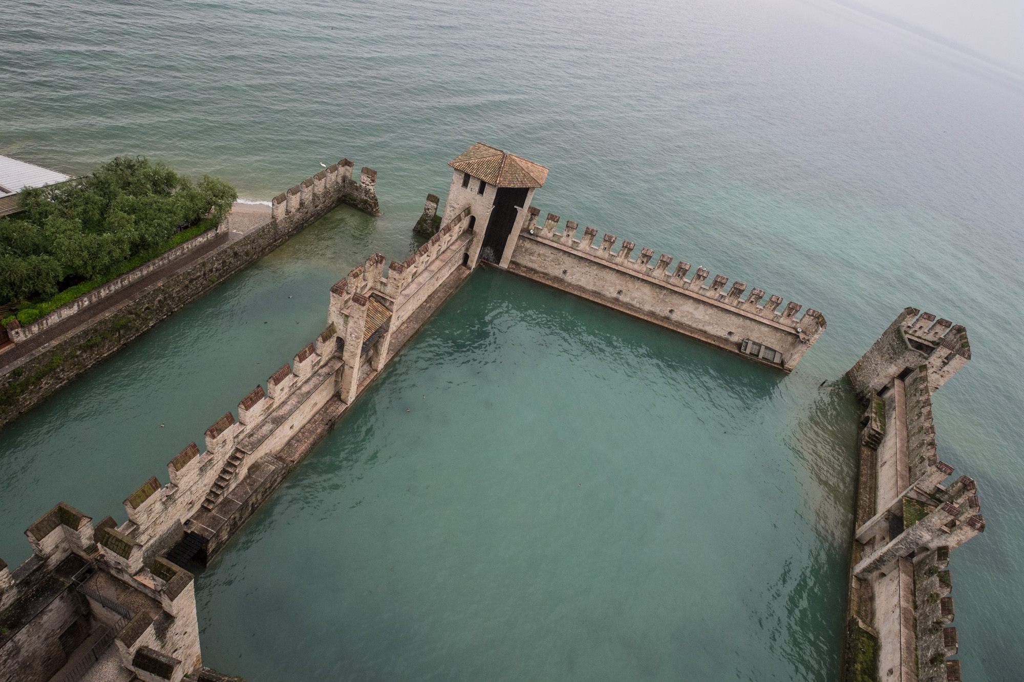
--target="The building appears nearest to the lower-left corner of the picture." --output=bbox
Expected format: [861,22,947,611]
[0,503,233,682]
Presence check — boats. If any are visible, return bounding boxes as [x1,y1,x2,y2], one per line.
[737,338,782,363]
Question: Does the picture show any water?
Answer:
Yes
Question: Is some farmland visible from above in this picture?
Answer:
No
